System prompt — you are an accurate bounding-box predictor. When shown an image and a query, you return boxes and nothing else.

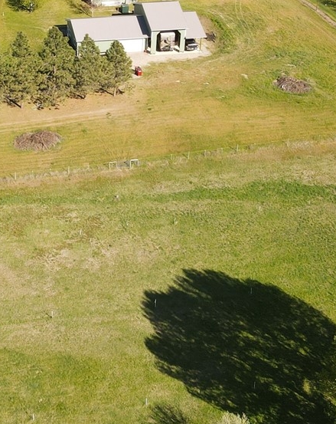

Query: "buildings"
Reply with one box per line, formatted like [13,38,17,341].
[90,0,129,6]
[69,0,207,56]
